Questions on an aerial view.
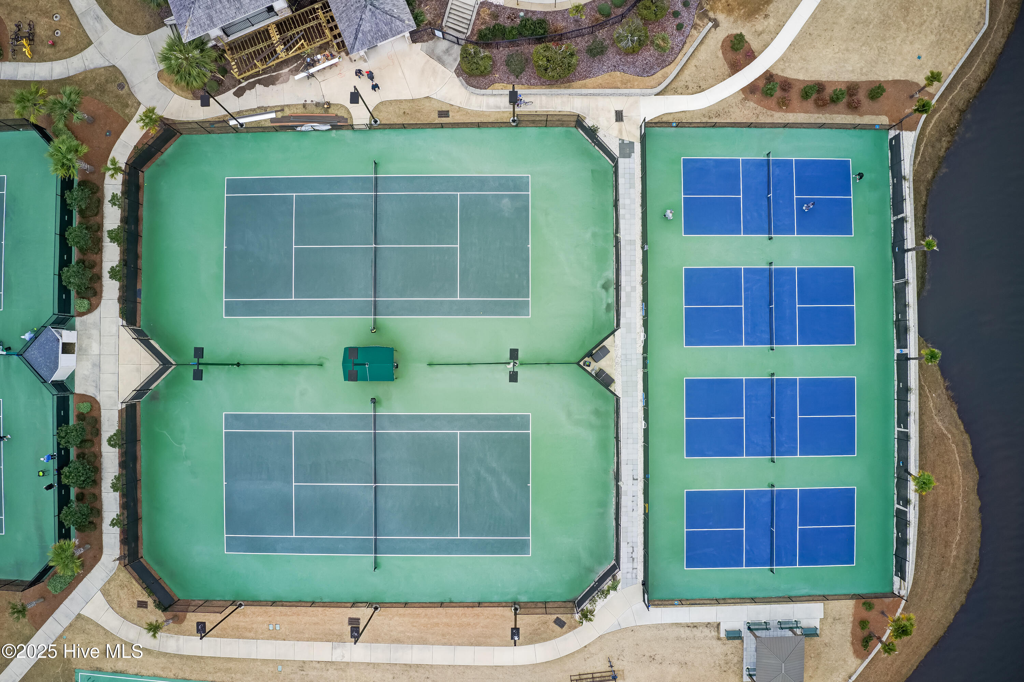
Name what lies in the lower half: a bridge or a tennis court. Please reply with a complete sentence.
There is a tennis court in the lower half.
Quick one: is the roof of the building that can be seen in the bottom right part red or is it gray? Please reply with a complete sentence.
In this view, the roof of the building that can be seen in the bottom right part is gray.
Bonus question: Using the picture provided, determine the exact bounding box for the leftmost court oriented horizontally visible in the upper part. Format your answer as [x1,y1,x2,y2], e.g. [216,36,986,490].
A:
[223,174,531,318]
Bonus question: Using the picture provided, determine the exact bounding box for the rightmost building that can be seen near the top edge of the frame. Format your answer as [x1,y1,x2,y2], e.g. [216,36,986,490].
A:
[327,0,417,57]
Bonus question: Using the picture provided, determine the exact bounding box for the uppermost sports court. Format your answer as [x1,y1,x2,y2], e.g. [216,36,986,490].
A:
[681,157,854,236]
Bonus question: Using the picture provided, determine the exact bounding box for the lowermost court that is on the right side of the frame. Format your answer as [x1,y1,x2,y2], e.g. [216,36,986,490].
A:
[685,487,857,570]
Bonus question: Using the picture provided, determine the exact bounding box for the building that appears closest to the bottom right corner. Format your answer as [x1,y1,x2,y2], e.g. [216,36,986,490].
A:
[750,629,807,682]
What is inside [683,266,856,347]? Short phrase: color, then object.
blue sports court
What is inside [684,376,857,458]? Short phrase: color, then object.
blue sports court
